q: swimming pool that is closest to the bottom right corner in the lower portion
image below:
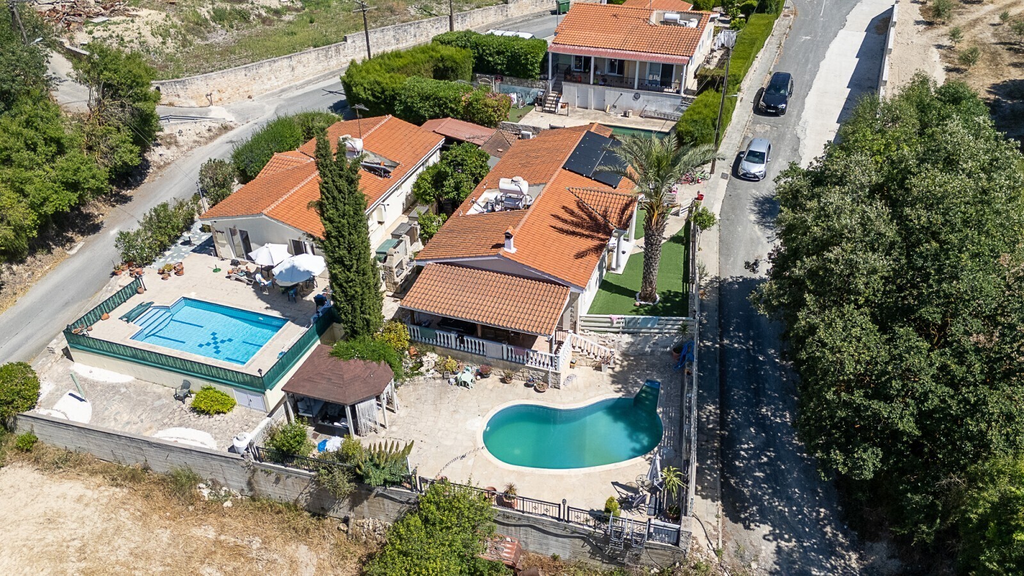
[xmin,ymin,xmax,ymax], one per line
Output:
[476,377,671,475]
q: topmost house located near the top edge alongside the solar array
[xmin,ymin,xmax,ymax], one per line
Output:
[543,0,715,119]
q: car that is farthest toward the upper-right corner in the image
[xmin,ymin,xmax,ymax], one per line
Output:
[761,69,794,107]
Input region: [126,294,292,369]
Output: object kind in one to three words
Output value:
swimming pool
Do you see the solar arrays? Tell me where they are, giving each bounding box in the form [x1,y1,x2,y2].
[568,128,641,183]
